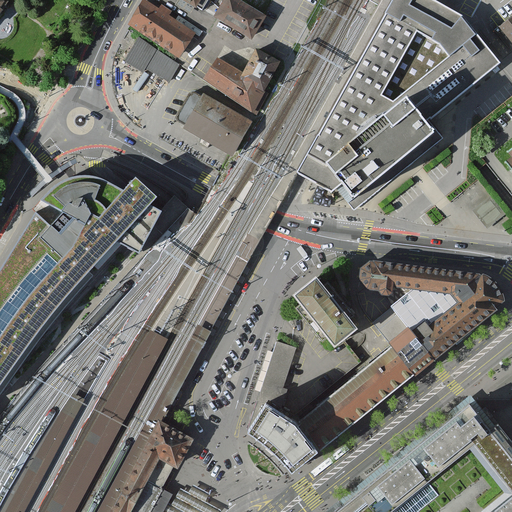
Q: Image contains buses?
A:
Yes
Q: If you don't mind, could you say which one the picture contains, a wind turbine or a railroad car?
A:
railroad car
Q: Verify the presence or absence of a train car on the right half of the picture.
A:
No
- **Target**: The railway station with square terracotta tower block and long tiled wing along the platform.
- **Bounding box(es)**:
[98,407,194,512]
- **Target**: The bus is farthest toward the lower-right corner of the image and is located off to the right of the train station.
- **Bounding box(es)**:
[308,445,350,478]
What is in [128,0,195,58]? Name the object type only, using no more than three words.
house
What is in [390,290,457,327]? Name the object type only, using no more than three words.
building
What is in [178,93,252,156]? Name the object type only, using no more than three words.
building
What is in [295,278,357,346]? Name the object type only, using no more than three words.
house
